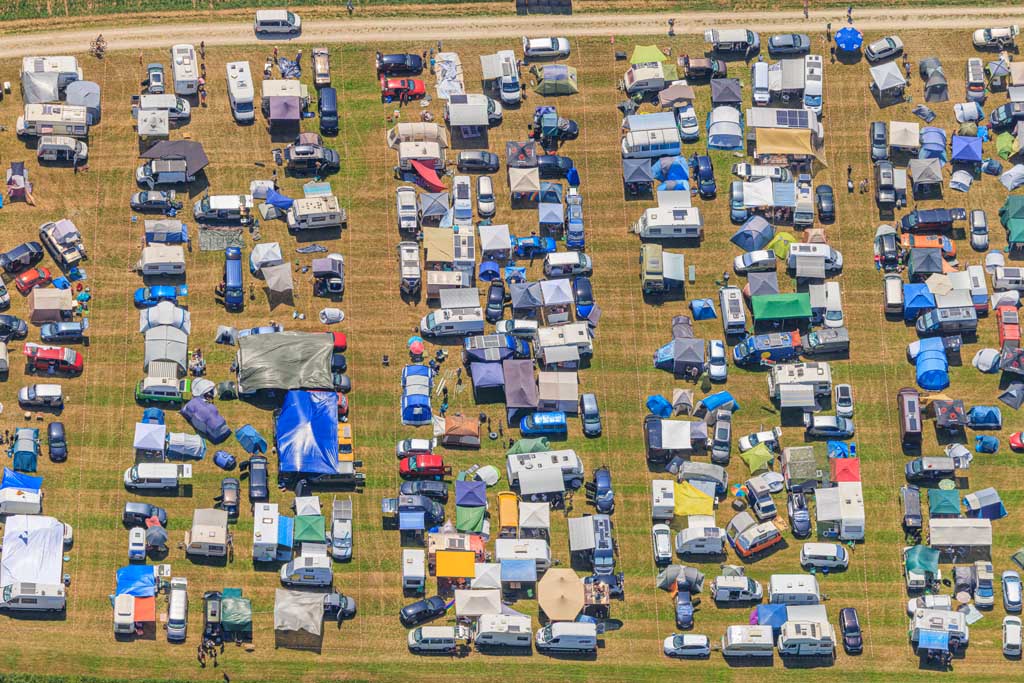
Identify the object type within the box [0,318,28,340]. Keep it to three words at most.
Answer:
car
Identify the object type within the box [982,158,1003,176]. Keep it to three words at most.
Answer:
tent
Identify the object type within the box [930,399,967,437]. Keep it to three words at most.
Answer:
gazebo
